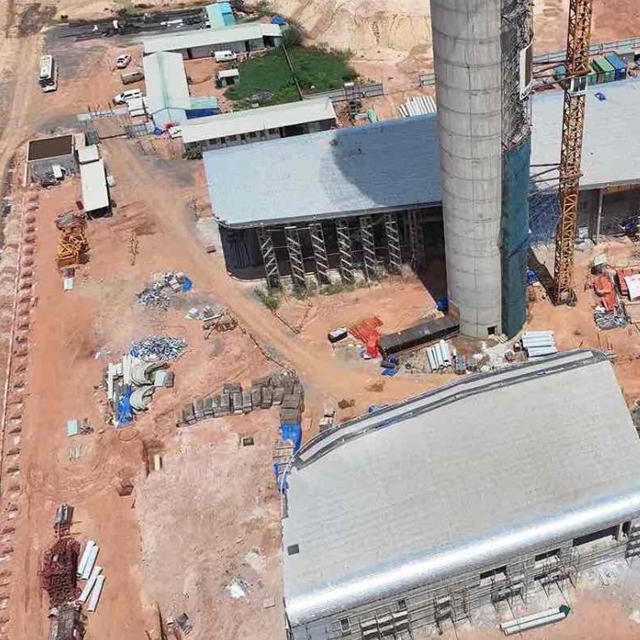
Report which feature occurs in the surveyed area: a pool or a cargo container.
cargo container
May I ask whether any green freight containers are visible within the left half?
No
